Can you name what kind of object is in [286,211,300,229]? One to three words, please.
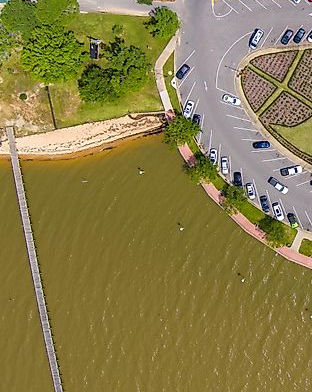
car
